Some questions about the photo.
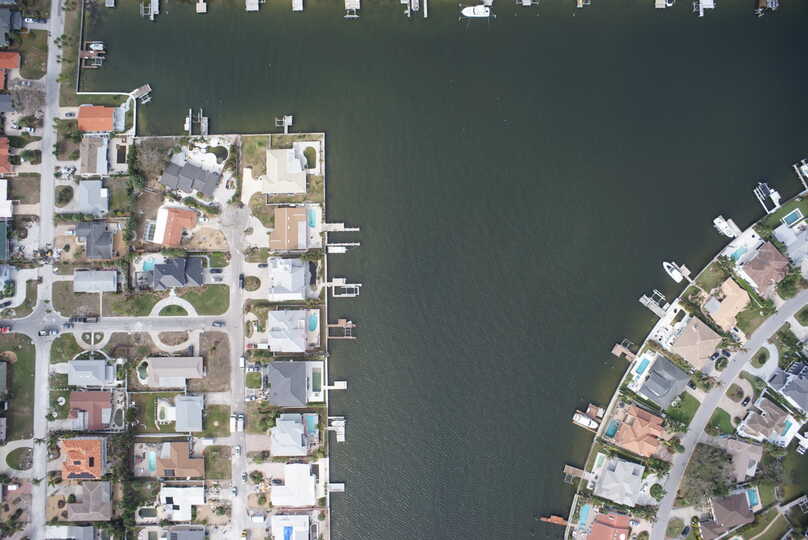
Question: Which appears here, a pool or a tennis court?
pool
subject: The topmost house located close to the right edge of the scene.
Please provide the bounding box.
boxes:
[772,214,808,267]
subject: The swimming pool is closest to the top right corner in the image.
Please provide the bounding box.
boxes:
[784,208,803,226]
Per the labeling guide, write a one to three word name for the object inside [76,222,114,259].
house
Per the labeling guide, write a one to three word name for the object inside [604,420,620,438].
swimming pool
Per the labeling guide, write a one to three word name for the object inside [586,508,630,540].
house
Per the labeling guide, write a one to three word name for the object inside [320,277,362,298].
pier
